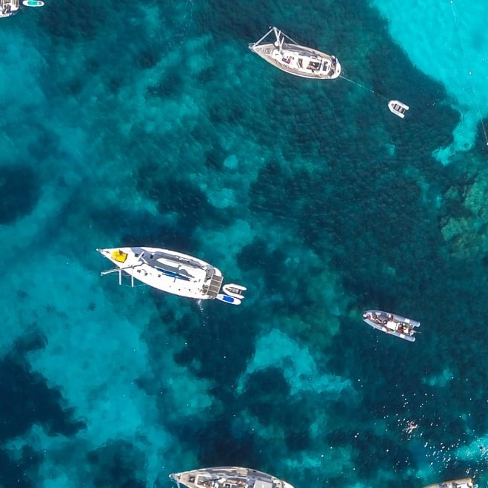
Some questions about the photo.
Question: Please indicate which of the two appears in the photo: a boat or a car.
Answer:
boat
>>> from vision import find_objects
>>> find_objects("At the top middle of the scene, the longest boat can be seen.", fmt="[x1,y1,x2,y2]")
[249,27,341,80]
